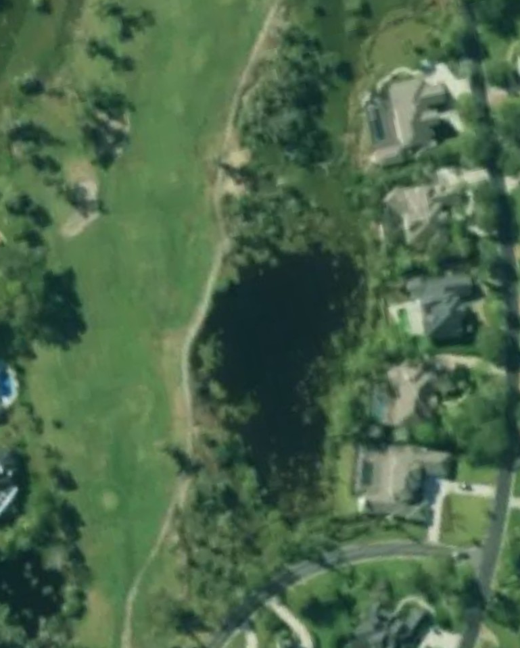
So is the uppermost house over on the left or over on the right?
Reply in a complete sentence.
It is on the right.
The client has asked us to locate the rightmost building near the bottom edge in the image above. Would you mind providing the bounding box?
[347,606,438,648]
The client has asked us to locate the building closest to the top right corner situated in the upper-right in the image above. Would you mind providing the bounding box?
[371,77,451,168]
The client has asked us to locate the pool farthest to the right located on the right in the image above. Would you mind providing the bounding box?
[397,308,412,337]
